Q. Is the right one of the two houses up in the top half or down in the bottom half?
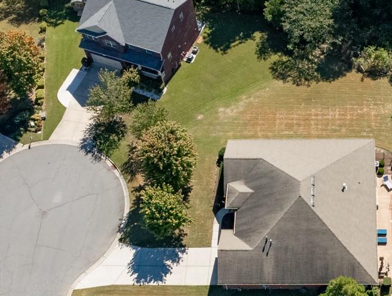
bottom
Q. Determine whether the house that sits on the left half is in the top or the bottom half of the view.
top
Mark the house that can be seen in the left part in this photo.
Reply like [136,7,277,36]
[75,0,198,91]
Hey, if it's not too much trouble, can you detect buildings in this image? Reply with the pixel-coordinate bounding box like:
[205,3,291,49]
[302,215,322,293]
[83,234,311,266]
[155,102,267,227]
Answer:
[216,138,379,290]
[75,0,198,91]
